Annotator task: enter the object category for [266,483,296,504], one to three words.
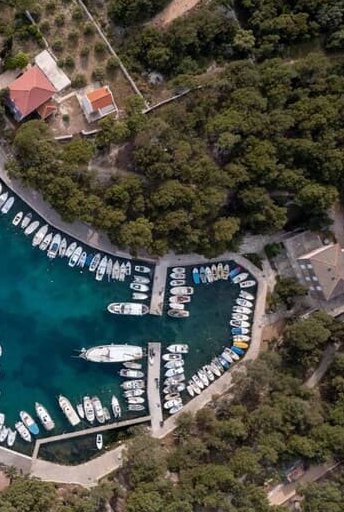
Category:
house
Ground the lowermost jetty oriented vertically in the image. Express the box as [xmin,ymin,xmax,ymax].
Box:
[146,342,164,438]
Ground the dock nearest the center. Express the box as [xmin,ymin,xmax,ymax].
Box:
[150,263,167,315]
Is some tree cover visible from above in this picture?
Yes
